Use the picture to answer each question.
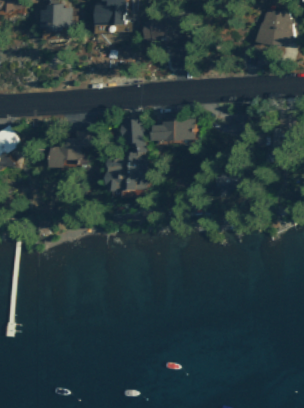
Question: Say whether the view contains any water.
Yes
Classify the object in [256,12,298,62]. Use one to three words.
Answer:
house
